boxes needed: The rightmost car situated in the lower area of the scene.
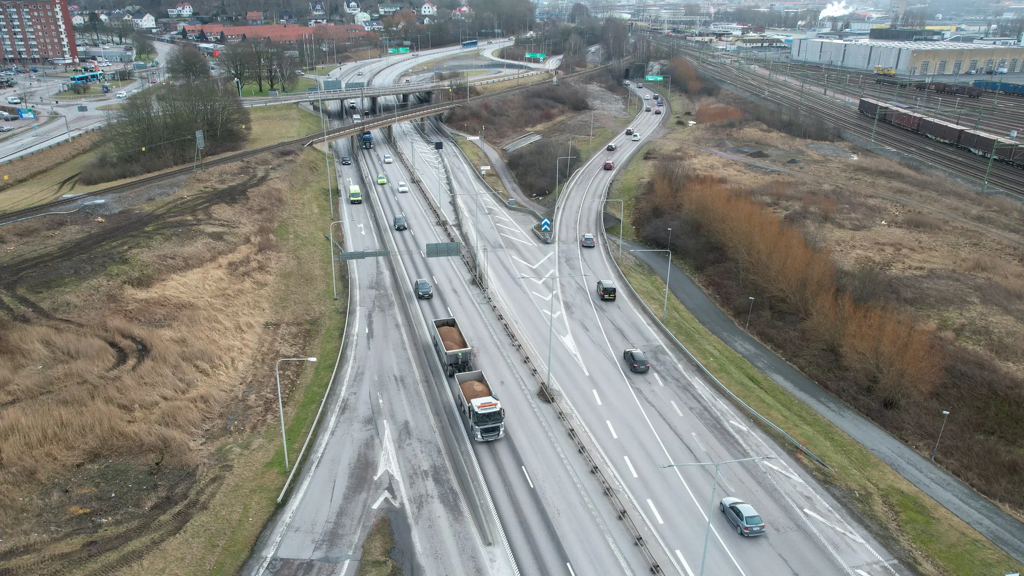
[715,490,764,536]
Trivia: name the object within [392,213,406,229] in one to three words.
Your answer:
car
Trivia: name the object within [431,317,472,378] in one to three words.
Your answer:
trailer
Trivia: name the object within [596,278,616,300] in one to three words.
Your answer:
vehicle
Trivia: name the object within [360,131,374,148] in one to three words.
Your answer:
vehicle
